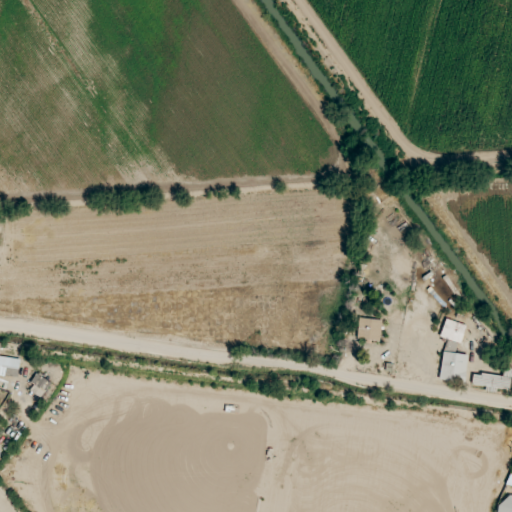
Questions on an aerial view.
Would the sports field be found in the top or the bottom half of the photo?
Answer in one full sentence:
It is in the bottom half that the sports field appears.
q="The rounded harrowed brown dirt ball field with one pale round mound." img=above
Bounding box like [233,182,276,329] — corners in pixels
[92,398,268,512]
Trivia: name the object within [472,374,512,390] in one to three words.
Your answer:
house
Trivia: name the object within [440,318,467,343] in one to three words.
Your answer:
house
